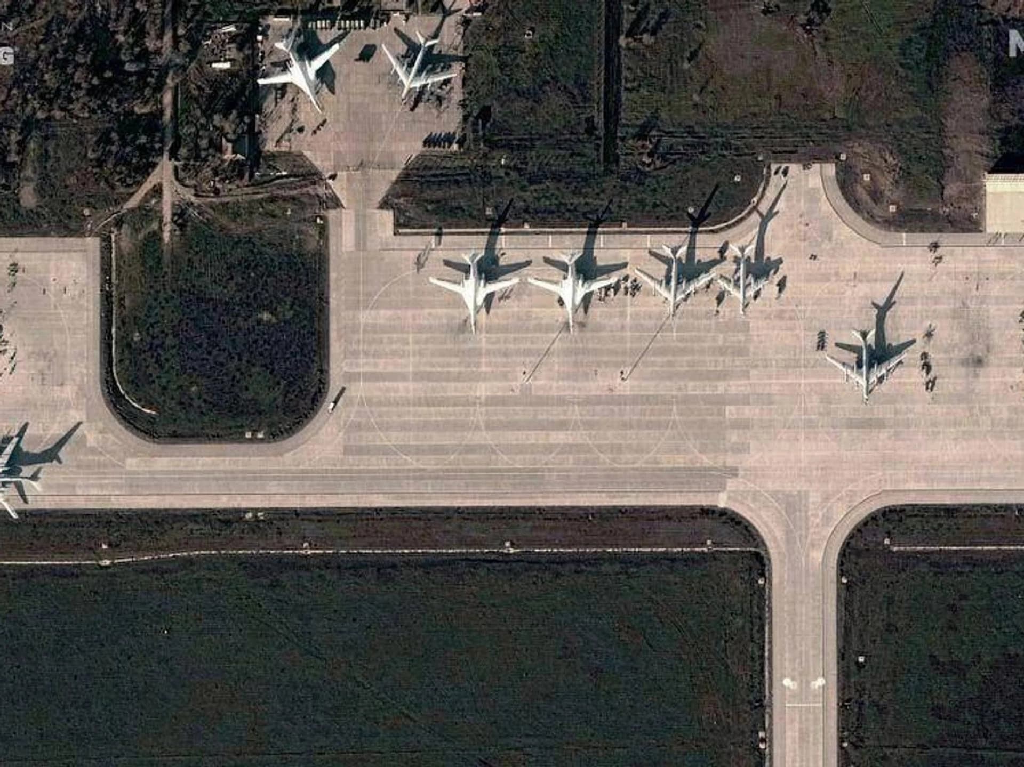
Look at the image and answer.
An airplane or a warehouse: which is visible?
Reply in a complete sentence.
Of the two, only an airplane appears.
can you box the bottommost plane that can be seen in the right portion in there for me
[827,327,907,398]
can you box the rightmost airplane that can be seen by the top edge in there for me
[384,27,459,100]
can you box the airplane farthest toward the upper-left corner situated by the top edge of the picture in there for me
[256,30,338,110]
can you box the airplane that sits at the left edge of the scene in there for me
[0,440,46,519]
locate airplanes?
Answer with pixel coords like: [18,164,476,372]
[256,30,338,110]
[636,243,716,315]
[430,247,519,332]
[384,27,459,100]
[0,440,46,519]
[827,327,907,398]
[528,247,617,333]
[718,240,768,312]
